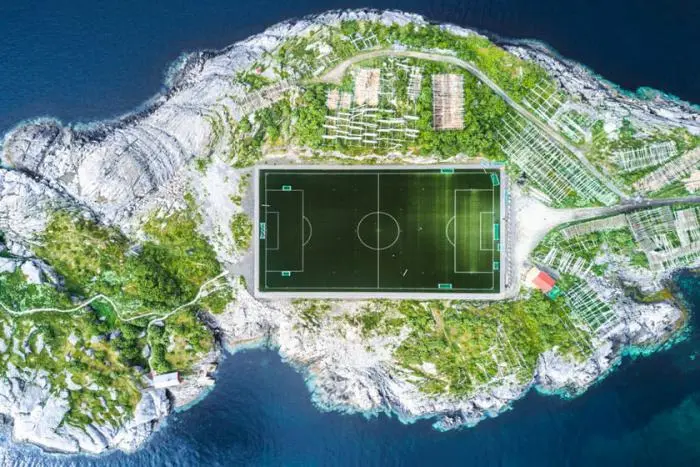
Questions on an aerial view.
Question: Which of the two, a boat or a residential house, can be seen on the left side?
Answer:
residential house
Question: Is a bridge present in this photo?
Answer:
No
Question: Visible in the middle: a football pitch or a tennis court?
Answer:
football pitch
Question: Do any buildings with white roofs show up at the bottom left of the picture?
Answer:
Yes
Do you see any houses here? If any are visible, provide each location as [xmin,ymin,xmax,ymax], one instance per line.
[523,267,554,293]
[149,371,183,388]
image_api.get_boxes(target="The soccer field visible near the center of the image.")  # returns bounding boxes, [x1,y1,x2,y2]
[259,169,500,293]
